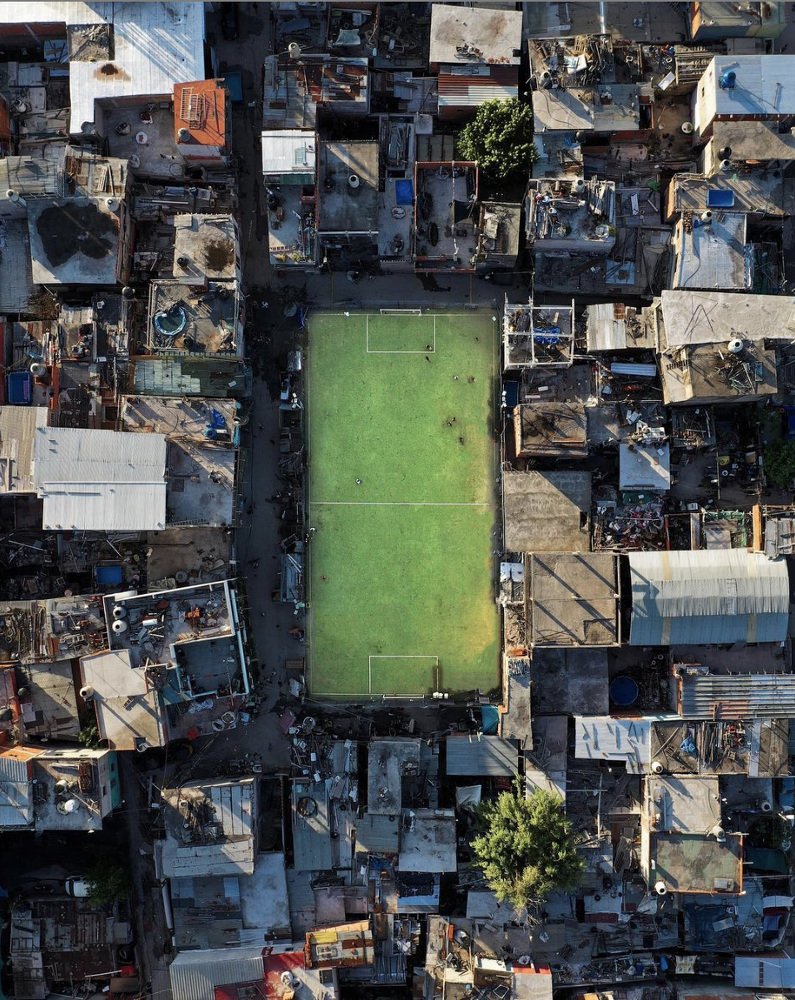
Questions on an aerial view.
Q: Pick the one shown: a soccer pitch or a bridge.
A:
soccer pitch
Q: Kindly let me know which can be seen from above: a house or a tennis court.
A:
house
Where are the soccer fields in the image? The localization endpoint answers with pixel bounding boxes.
[306,309,502,699]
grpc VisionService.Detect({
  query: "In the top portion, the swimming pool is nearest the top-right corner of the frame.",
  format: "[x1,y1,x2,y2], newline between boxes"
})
[706,190,733,208]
